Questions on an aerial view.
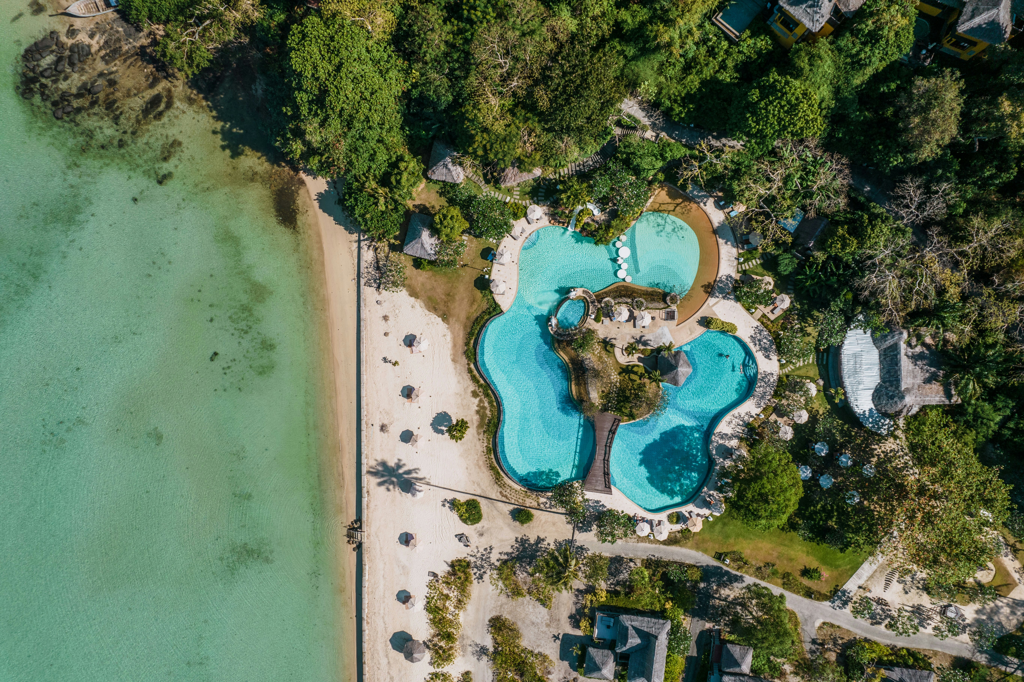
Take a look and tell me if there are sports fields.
No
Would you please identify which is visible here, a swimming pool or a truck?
swimming pool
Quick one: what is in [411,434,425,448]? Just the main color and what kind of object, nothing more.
white umbrella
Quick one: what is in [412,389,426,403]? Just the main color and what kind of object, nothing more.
white umbrella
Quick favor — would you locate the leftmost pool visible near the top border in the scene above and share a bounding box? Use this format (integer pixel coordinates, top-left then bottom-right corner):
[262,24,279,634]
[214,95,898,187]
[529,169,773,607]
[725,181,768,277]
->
[711,0,774,40]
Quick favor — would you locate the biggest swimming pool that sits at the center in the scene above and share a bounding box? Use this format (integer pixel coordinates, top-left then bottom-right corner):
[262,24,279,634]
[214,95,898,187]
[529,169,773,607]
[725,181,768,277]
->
[479,211,758,513]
